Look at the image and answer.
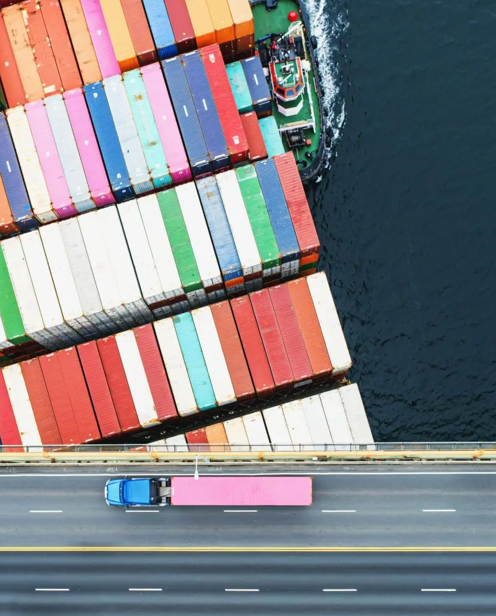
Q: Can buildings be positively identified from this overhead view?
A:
No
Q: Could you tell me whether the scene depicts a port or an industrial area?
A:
port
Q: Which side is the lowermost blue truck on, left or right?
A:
left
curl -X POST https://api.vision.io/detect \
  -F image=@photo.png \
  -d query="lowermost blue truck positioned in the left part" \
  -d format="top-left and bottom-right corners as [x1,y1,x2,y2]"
[104,475,172,509]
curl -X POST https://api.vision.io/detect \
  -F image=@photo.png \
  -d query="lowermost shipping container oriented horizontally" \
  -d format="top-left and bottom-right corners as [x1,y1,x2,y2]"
[172,477,312,506]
